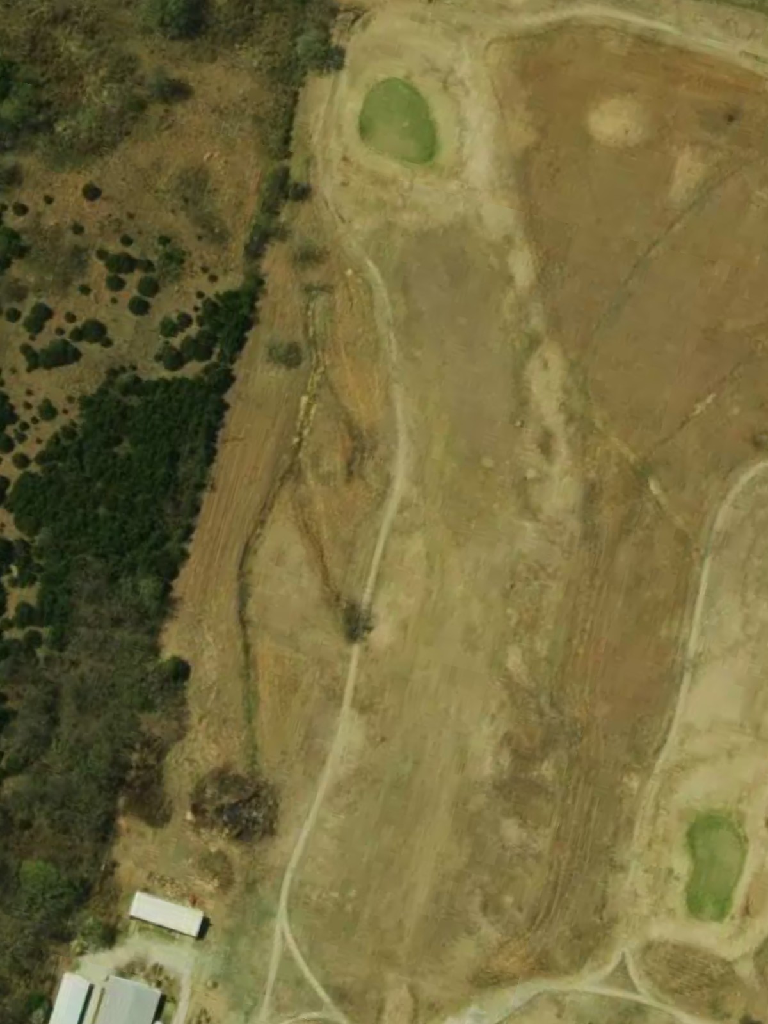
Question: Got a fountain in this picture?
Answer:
No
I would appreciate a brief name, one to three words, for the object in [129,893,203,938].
shed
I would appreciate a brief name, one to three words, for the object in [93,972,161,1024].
house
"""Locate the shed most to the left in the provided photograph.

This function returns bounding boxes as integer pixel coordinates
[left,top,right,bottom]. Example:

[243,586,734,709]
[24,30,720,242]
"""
[48,969,91,1024]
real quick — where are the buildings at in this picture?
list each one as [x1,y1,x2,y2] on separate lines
[129,893,203,938]
[93,972,161,1024]
[48,969,91,1024]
